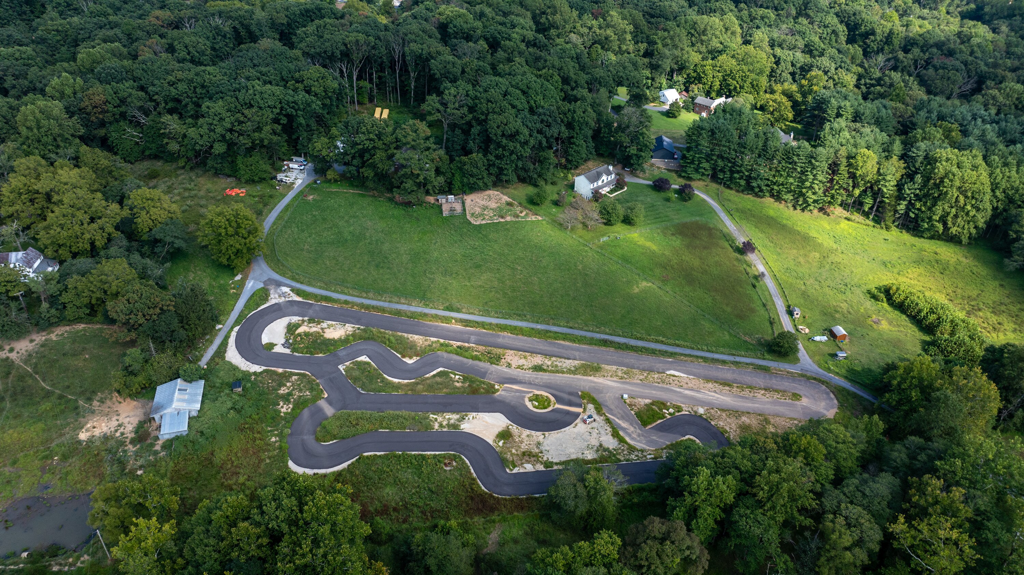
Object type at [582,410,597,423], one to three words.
vehicle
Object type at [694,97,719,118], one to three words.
house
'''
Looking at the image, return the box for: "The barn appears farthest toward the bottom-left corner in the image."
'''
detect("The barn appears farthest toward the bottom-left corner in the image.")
[150,374,207,439]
